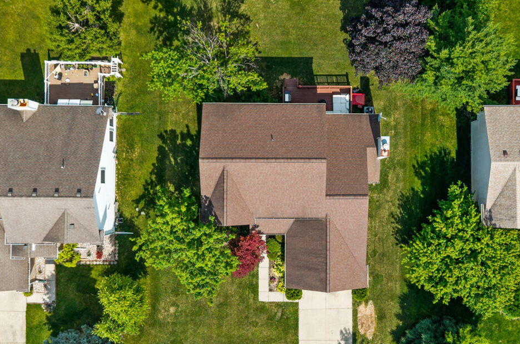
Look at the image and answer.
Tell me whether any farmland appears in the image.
No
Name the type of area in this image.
residential area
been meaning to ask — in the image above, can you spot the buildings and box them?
[198,102,389,297]
[471,104,520,233]
[0,93,141,294]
